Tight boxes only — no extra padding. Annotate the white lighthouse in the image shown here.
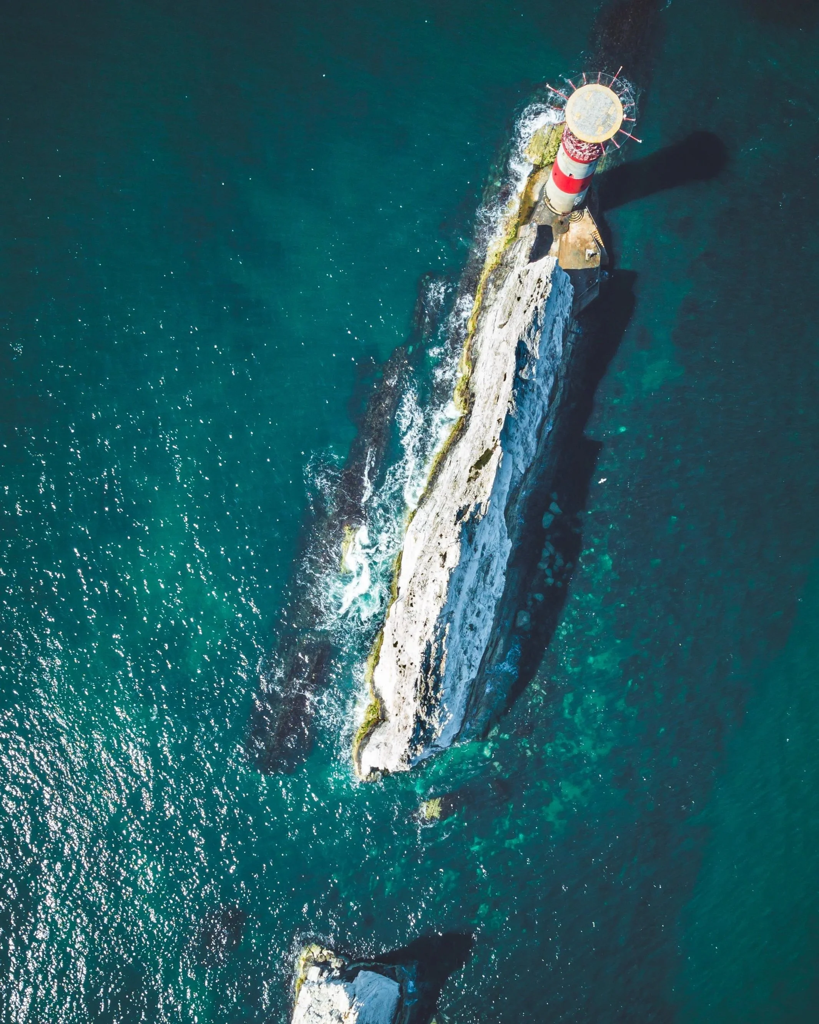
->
[541,68,641,216]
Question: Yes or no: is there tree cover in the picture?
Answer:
No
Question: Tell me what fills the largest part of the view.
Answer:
water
